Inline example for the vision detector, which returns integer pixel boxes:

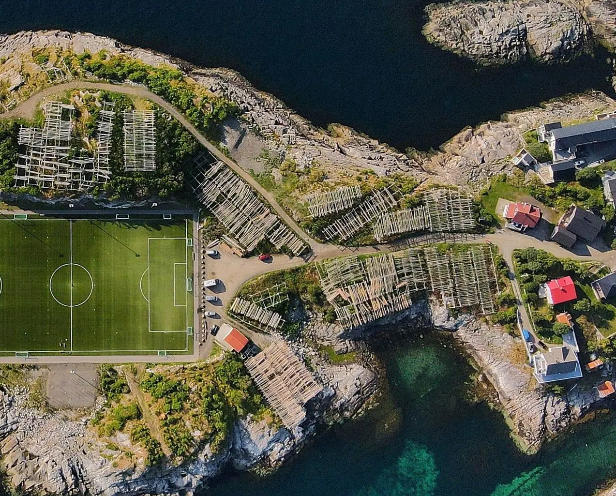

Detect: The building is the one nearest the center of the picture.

[213,323,252,353]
